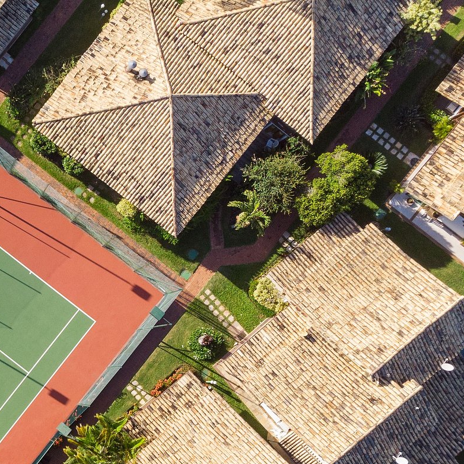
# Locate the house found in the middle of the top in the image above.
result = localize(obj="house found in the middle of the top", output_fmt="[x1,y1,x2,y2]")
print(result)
[31,0,408,239]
